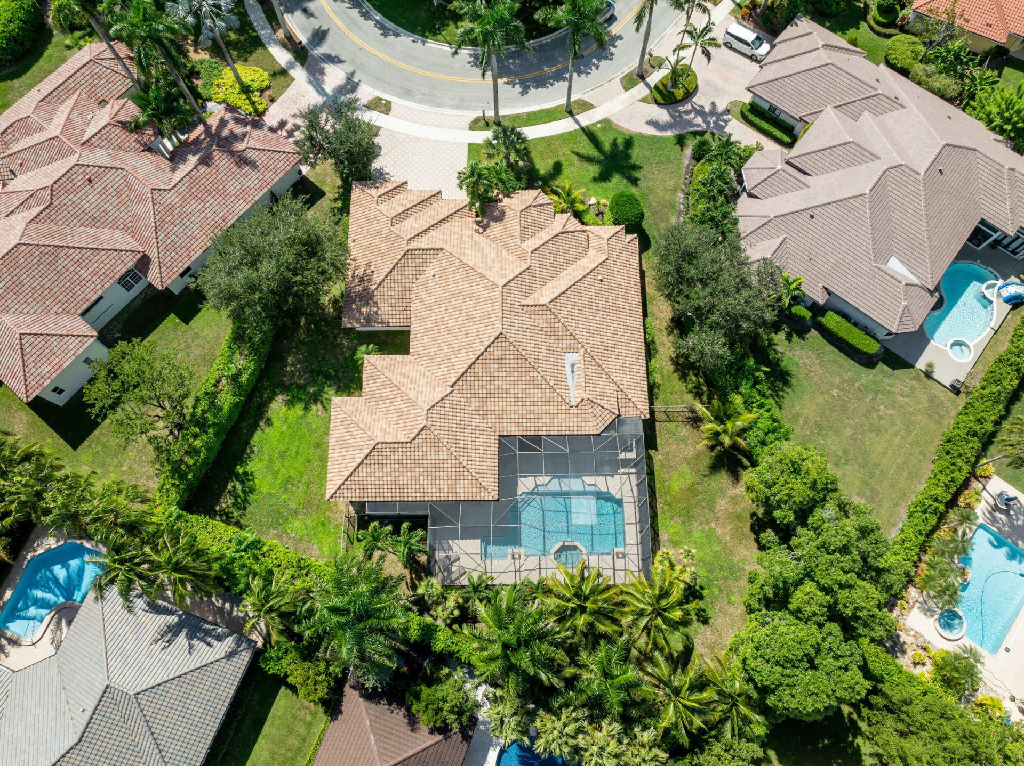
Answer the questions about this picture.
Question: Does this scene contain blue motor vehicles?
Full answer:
No, the photo shows no blue motor vehicle.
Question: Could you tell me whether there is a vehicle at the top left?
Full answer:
No, the scene shows no vehicle at the top left.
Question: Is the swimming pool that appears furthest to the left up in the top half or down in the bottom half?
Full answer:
It is in the bottom half that the swimming pool that appears furthest to the left appears.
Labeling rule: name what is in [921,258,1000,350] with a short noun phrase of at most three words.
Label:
swimming pool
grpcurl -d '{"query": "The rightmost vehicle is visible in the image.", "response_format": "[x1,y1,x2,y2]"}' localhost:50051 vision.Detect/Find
[720,19,773,61]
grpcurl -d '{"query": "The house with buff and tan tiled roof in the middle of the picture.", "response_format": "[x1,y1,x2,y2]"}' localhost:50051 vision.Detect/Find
[325,178,650,502]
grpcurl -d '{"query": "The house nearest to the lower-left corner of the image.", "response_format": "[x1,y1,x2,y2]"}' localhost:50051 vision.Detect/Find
[0,573,258,766]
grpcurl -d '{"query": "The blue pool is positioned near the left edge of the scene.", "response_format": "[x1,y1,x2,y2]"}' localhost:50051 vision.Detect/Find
[0,538,120,643]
